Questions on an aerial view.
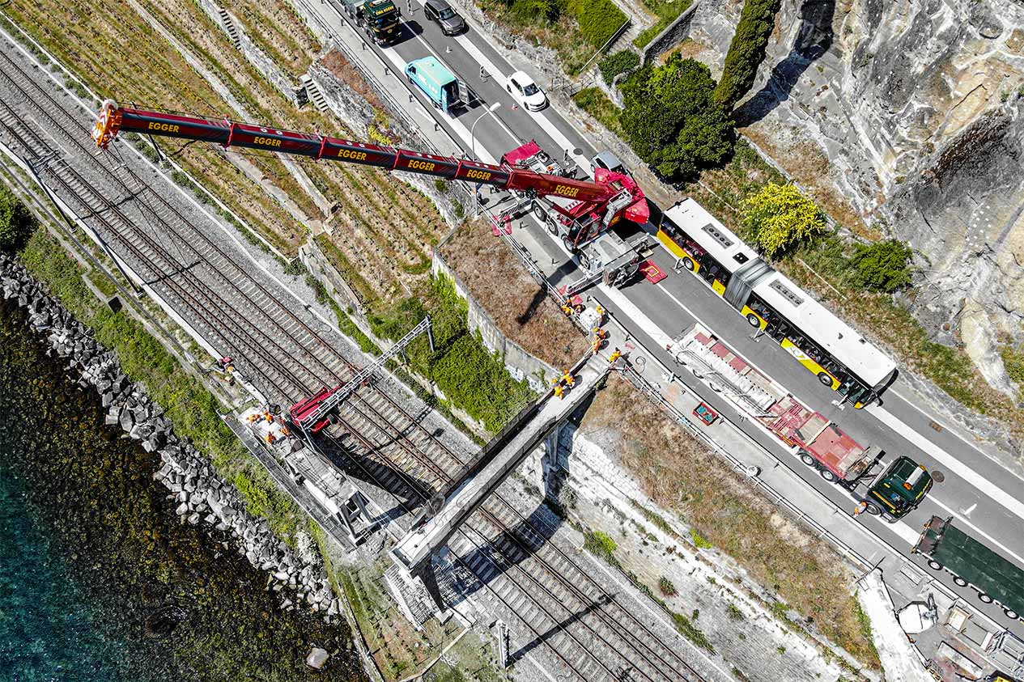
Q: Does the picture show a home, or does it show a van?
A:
van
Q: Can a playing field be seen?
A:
No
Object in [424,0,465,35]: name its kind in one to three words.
car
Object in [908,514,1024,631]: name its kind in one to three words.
trailer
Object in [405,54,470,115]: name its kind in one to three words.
van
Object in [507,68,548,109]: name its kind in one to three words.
car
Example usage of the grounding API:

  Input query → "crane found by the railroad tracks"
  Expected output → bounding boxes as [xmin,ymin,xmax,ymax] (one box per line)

[99,104,652,518]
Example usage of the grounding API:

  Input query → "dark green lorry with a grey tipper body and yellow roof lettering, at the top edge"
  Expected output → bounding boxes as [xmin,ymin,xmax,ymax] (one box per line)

[333,0,402,42]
